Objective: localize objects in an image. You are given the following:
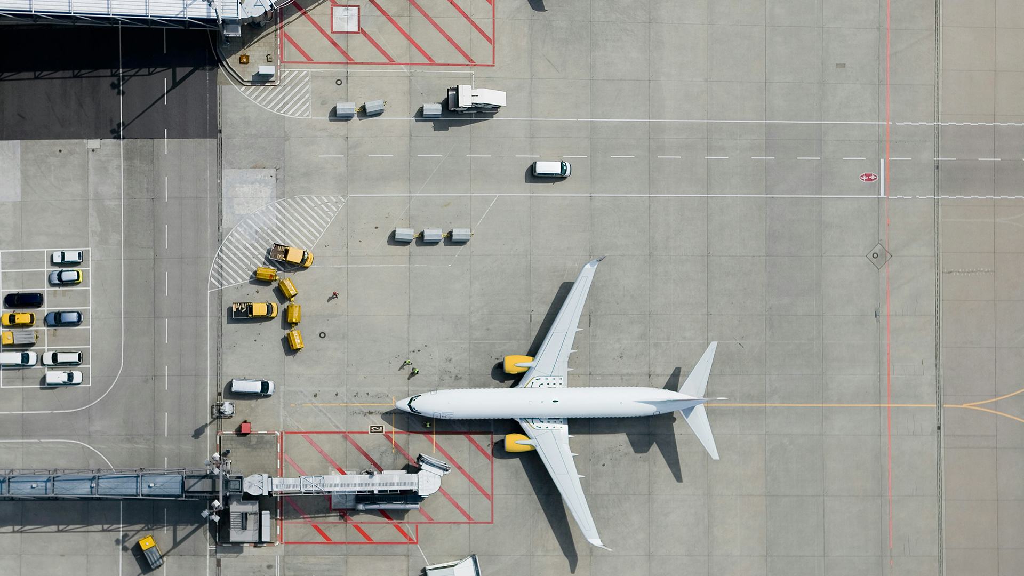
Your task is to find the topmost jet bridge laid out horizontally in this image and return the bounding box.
[236,0,296,27]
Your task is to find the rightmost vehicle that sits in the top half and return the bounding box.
[533,160,572,179]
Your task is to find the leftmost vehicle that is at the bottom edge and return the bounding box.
[139,536,164,569]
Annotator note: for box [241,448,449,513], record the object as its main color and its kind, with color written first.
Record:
white jet bridge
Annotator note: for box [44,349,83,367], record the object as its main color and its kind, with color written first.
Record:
white car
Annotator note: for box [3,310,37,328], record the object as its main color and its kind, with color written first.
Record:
yellow car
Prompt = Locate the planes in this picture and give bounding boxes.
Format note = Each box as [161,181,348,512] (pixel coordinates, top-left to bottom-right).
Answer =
[396,254,726,548]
